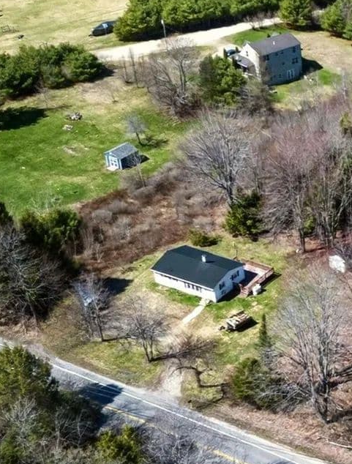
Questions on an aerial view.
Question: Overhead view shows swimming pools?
No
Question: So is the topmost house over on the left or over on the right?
right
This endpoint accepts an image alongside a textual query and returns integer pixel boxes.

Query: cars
[222,49,239,58]
[91,24,117,37]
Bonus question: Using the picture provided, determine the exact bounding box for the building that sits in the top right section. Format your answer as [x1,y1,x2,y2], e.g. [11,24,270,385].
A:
[232,32,301,87]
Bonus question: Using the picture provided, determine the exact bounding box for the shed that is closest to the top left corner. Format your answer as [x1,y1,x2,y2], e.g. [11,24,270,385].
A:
[102,140,140,171]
